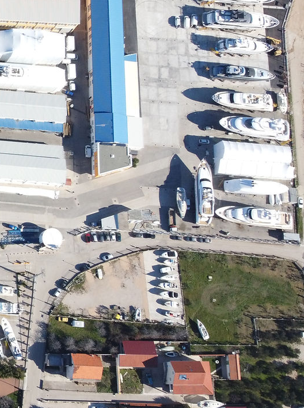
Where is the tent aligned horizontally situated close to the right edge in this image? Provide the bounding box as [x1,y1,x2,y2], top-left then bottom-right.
[210,143,299,180]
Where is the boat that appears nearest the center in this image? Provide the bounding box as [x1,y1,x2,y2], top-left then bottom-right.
[172,187,206,217]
